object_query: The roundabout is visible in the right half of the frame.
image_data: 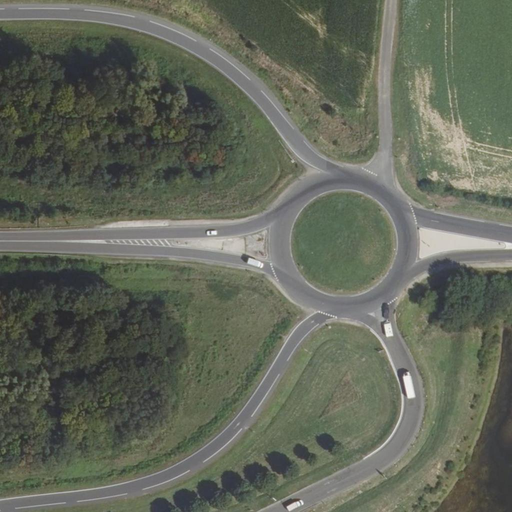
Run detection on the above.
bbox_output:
[268,168,418,318]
